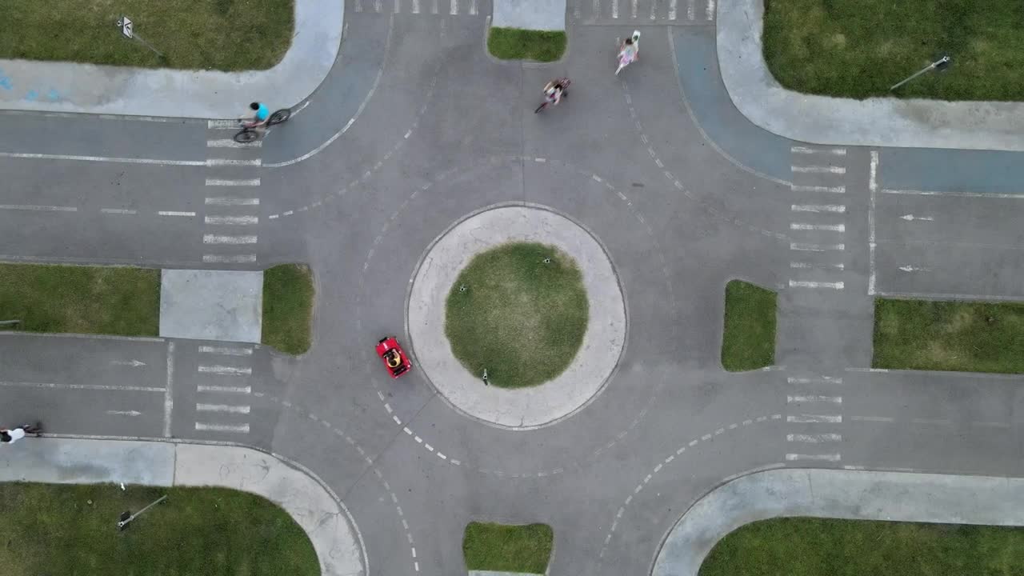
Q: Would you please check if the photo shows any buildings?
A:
No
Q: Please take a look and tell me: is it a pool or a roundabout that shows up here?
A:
roundabout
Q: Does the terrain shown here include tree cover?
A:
No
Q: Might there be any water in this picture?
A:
No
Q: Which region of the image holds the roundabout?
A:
center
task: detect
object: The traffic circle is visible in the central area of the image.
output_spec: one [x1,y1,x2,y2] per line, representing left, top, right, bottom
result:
[409,207,625,427]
